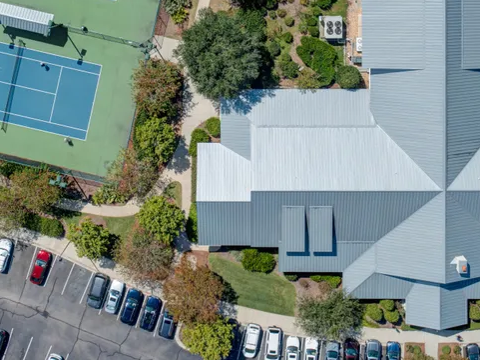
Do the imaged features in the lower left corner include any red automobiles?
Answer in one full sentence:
Yes, a red automobile can be seen in the lower left corner.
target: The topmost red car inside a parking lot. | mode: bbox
[30,248,52,286]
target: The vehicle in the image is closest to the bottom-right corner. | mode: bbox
[464,341,480,360]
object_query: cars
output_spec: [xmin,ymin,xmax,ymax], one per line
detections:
[243,323,261,360]
[0,236,13,273]
[104,278,125,314]
[157,310,175,340]
[304,338,319,360]
[464,341,480,360]
[87,271,109,310]
[344,338,359,360]
[286,337,300,360]
[30,248,52,286]
[49,351,62,360]
[121,288,142,326]
[386,340,402,360]
[265,329,282,360]
[0,327,6,357]
[139,295,160,333]
[366,340,381,360]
